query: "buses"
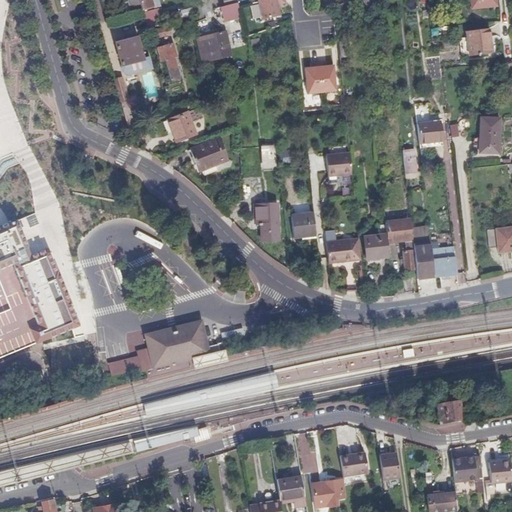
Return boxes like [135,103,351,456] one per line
[135,228,164,250]
[172,272,196,294]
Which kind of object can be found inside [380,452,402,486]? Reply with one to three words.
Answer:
house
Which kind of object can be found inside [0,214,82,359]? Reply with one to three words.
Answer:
building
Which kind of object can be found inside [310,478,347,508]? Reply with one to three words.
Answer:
house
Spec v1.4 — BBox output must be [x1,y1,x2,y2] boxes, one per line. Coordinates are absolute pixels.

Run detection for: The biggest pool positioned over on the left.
[143,72,158,100]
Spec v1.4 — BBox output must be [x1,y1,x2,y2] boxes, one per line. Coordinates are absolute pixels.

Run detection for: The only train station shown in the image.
[0,318,512,486]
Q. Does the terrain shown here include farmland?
No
